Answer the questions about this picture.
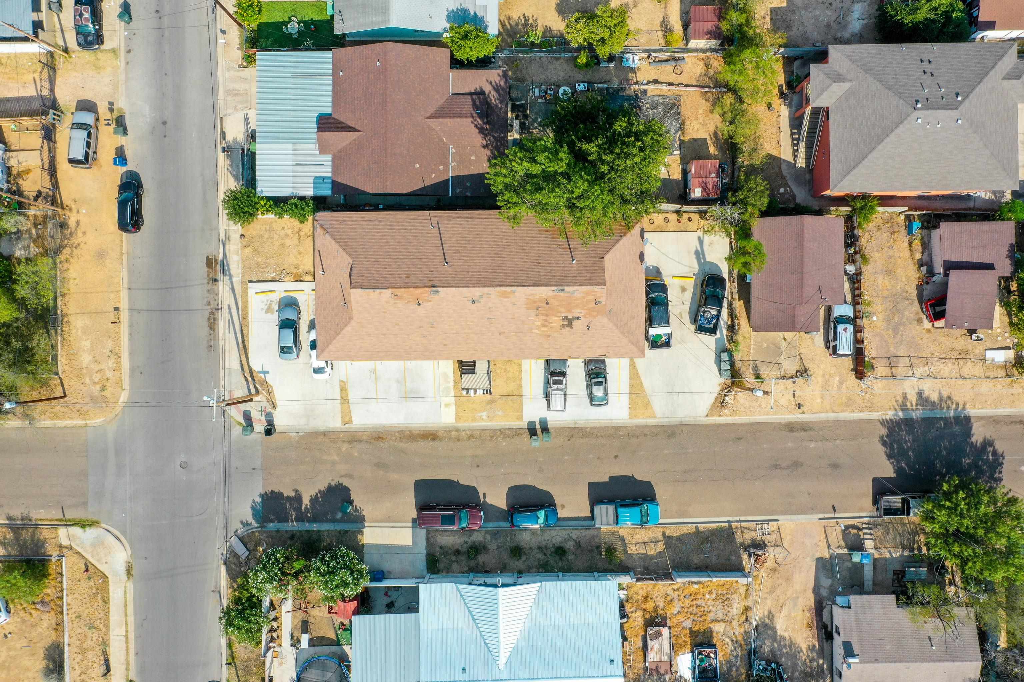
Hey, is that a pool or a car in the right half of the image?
car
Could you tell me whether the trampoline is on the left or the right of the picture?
left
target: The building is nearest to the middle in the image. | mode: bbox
[314,211,669,361]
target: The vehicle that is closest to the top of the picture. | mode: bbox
[73,0,105,45]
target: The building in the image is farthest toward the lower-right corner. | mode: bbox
[825,595,982,682]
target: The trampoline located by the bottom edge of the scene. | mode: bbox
[295,660,350,682]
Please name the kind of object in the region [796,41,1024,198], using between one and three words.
building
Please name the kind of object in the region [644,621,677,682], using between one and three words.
trailer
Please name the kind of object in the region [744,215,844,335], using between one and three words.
house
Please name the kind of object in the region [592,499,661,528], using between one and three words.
truck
